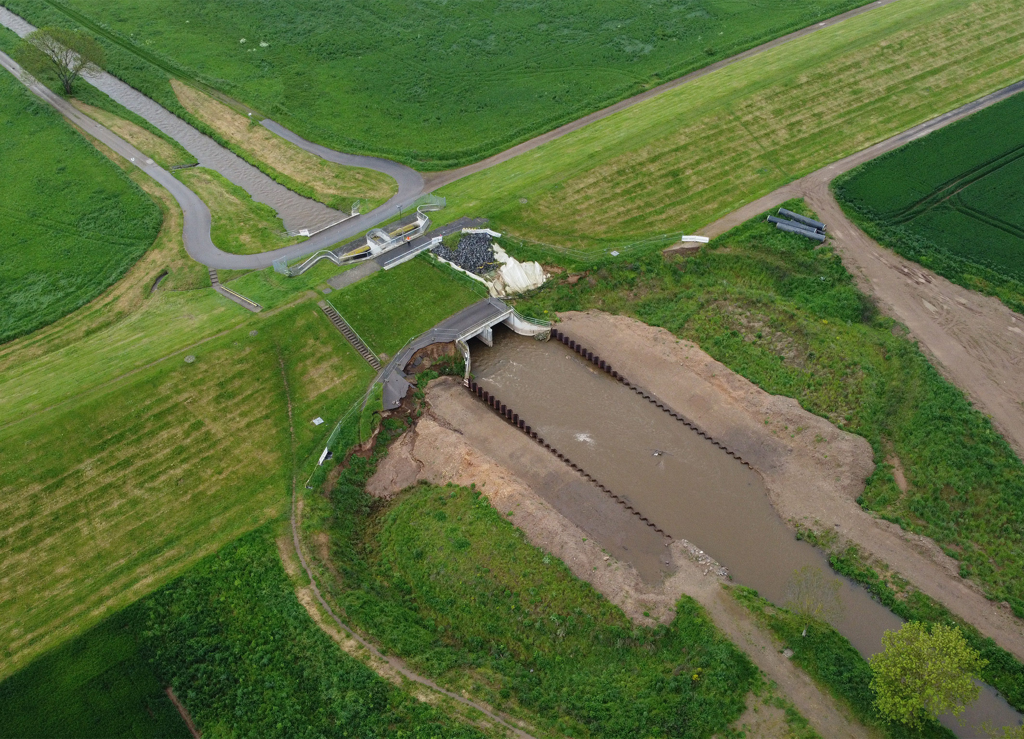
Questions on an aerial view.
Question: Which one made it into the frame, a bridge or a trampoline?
bridge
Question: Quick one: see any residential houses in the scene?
No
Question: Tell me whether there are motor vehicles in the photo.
No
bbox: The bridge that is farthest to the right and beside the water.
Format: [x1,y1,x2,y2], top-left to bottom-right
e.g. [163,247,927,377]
[446,295,551,389]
